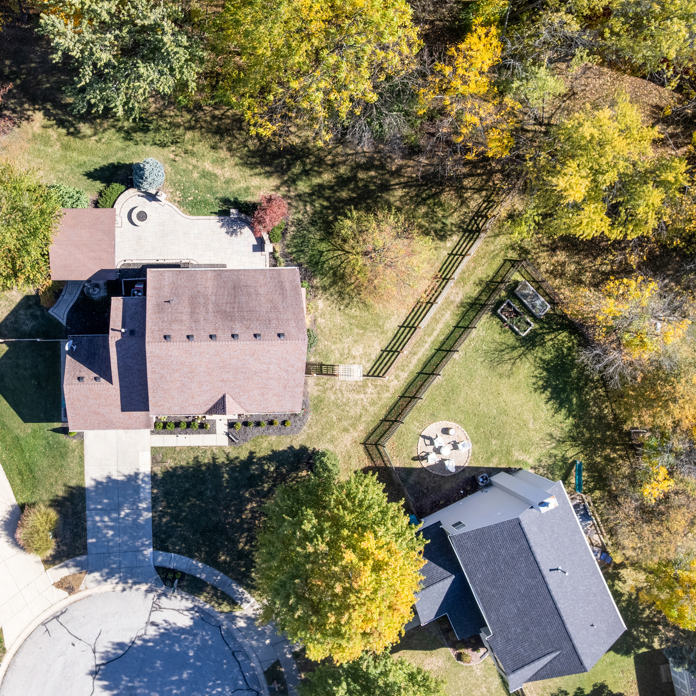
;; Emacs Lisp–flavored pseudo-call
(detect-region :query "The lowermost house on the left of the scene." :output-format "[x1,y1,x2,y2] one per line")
[63,265,308,432]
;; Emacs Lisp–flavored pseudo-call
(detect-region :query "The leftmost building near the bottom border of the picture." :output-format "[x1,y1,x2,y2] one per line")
[404,467,628,694]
